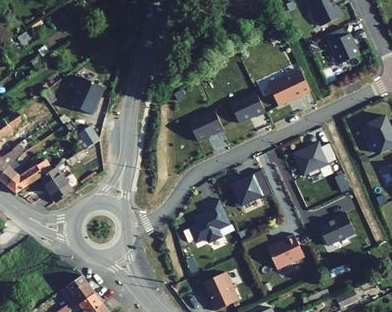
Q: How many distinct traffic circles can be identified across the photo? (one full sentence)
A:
The photo contains exactly 1 traffic circle.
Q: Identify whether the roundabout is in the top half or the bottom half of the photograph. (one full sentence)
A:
The roundabout sits in the bottom half of the picture.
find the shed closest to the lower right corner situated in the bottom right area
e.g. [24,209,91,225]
[334,284,378,310]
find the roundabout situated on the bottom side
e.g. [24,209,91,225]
[64,193,138,267]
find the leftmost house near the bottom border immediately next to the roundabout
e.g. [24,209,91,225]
[55,275,94,308]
